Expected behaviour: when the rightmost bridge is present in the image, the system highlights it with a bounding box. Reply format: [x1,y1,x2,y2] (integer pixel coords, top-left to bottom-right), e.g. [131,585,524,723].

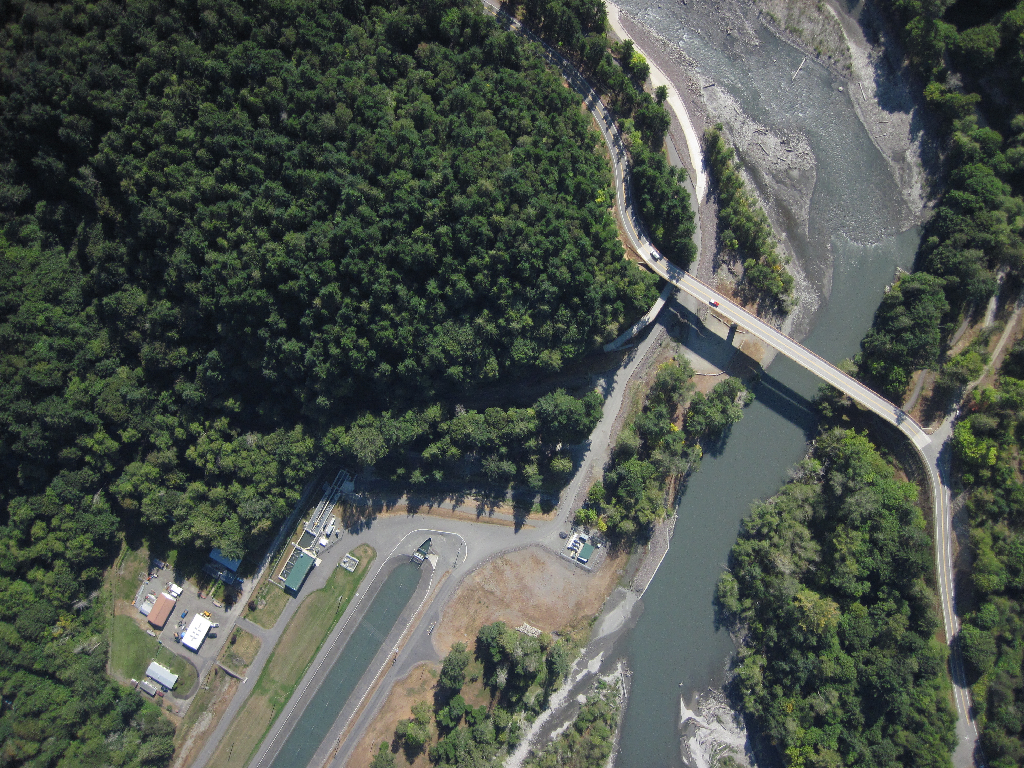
[637,242,933,449]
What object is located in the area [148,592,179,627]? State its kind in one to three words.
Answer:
shed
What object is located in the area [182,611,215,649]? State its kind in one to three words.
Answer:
building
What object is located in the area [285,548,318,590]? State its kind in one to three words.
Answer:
building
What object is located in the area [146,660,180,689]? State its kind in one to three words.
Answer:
house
